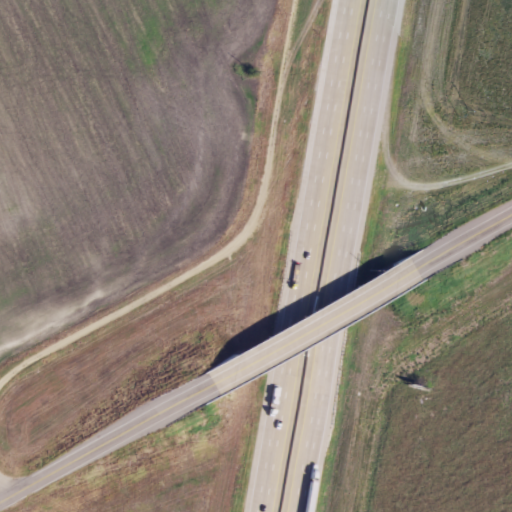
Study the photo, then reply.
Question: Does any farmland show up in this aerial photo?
Yes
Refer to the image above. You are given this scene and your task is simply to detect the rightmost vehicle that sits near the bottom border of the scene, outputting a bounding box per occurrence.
[306,463,320,510]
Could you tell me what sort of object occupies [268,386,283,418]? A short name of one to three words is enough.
vehicle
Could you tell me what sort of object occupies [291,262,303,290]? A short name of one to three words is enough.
vehicle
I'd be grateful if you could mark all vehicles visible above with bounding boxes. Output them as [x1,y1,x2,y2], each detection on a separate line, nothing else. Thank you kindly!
[268,386,283,418]
[275,420,281,430]
[291,262,303,290]
[306,463,320,510]
[304,250,310,261]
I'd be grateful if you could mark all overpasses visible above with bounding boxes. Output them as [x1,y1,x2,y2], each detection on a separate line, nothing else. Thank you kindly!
[204,250,429,406]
